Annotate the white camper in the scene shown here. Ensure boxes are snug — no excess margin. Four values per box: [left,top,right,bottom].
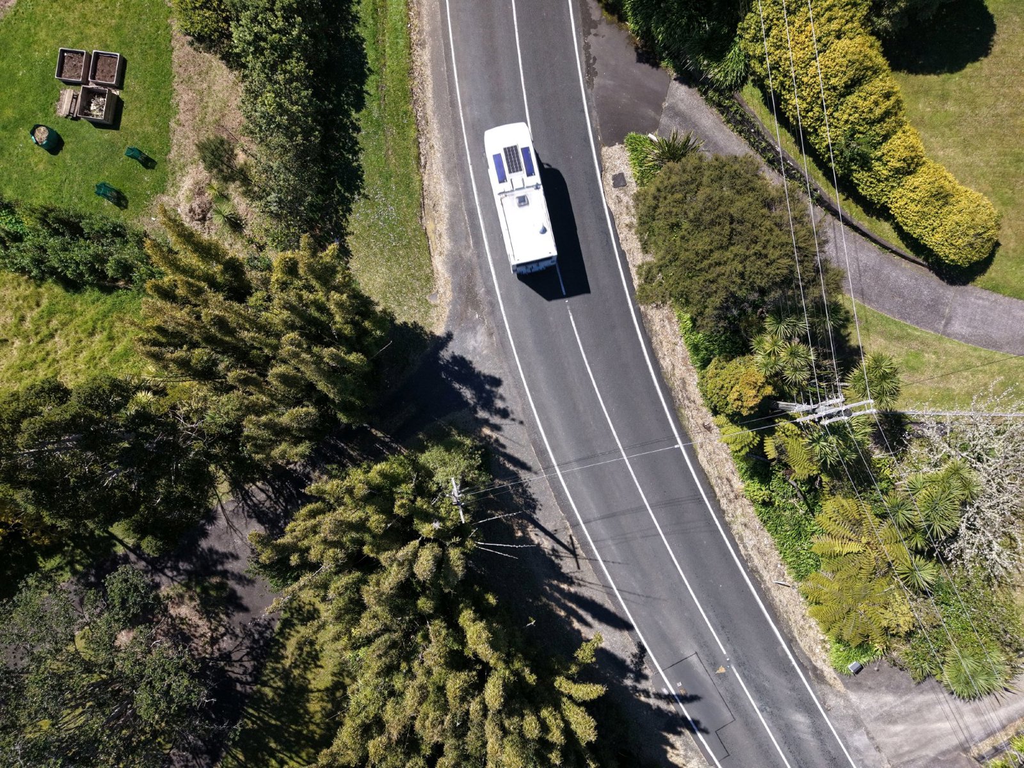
[488,122,559,280]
